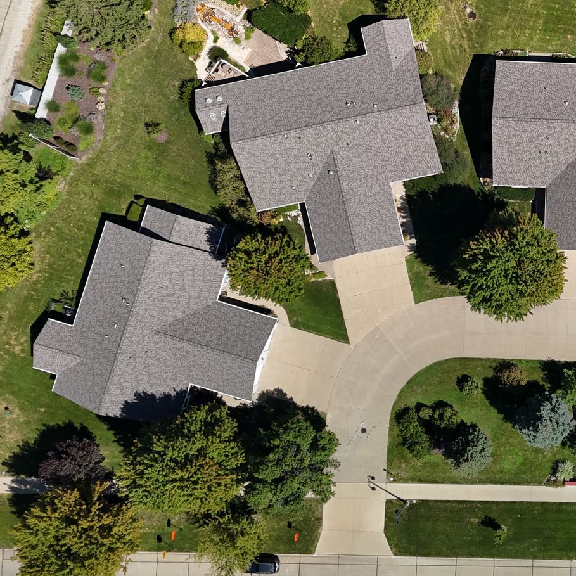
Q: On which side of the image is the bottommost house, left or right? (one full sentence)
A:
You can find the bottommost house on the left side of the picture.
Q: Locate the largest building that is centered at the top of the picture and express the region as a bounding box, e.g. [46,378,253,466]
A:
[195,19,443,264]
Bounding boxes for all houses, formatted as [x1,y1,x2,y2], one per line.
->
[32,204,281,424]
[195,19,443,264]
[492,61,576,251]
